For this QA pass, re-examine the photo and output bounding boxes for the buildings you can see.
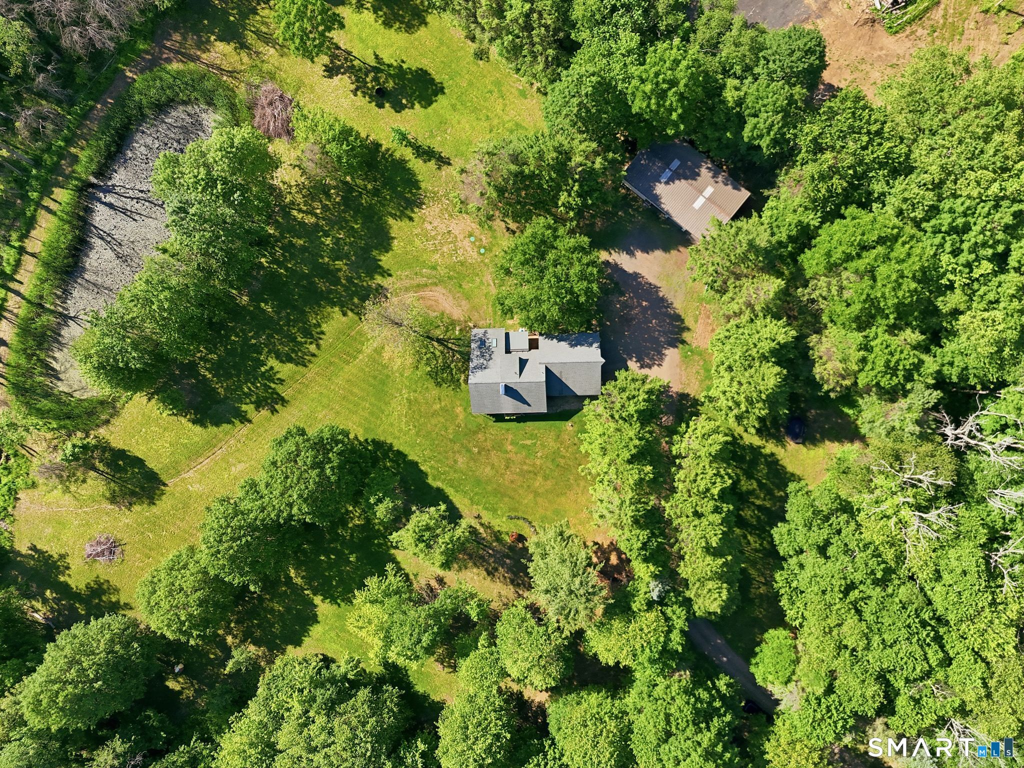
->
[624,132,751,239]
[468,328,605,415]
